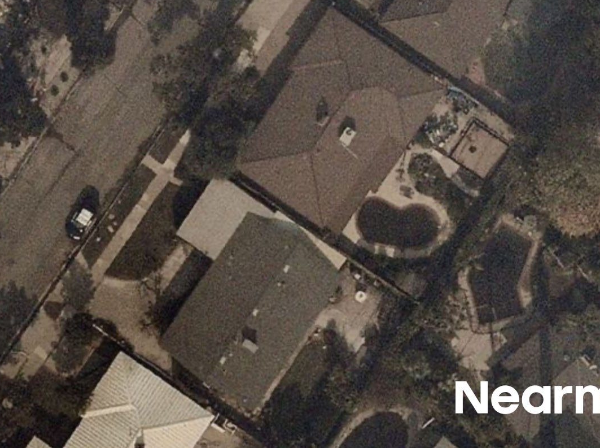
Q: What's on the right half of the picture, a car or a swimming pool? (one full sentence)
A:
There is a swimming pool on the right half of the picture.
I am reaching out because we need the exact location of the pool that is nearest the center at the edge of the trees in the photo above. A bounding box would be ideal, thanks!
[355,195,442,252]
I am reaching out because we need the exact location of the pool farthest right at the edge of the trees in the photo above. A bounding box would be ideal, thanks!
[467,224,532,327]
